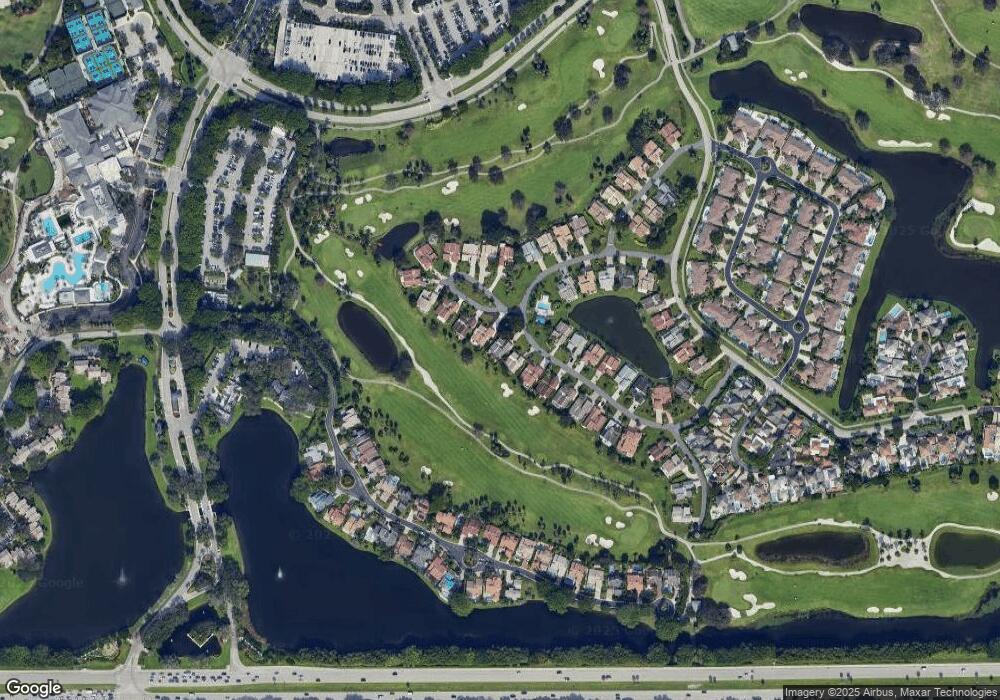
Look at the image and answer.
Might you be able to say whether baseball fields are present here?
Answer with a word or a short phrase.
No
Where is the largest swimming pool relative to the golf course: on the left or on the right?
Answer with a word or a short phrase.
to the left of it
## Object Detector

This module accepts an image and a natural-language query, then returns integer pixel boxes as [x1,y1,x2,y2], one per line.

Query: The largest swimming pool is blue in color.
[40,250,89,295]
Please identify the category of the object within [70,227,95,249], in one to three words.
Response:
swimming pool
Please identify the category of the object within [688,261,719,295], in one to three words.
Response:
house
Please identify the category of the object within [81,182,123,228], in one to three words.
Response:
building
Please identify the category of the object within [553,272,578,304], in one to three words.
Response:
house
